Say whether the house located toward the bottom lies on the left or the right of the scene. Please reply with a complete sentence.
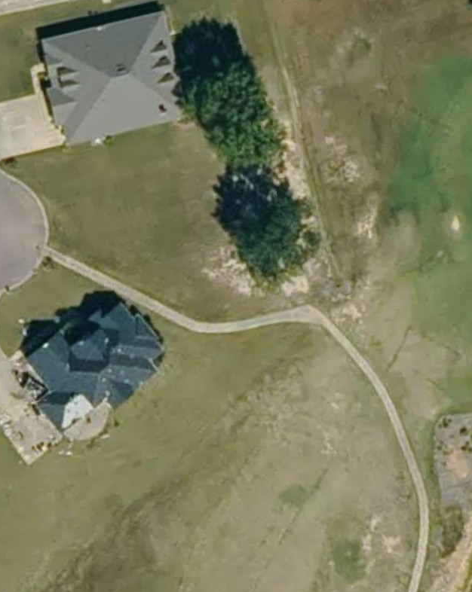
The house located toward the bottom appears in the left half of the scene.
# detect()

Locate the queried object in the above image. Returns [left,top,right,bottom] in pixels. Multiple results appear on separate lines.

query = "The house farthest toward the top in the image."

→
[40,8,184,142]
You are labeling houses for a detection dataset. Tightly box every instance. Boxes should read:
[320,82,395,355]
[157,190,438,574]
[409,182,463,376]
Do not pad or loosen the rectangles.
[27,302,164,430]
[40,8,184,142]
